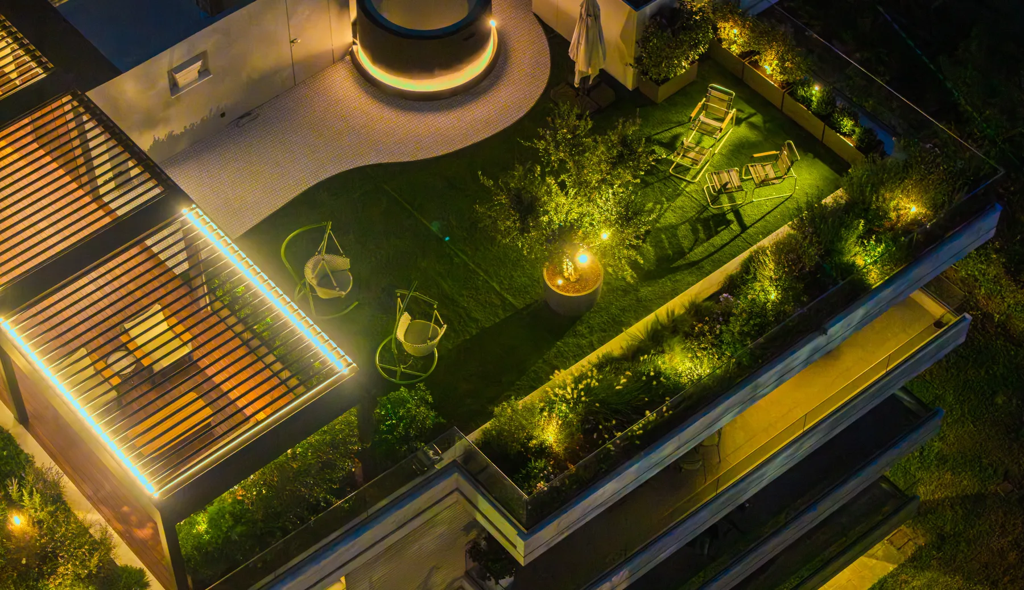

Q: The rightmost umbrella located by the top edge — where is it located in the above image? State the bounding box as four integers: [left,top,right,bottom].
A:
[553,0,615,117]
